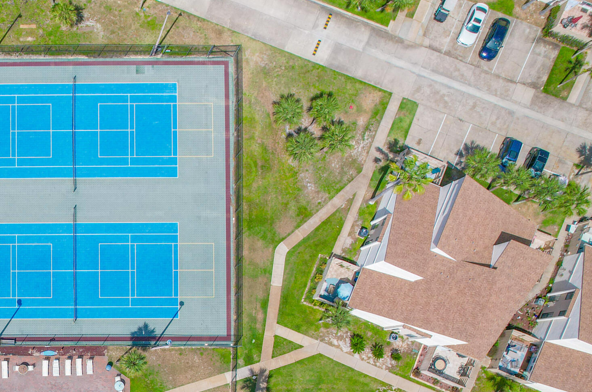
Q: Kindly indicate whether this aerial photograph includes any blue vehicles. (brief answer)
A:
Yes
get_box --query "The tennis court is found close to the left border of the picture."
[0,56,236,346]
